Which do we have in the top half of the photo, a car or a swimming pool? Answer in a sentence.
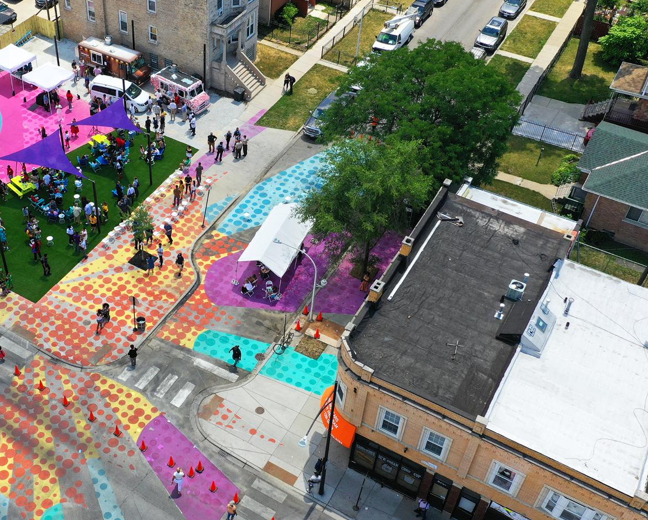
The one visible in the top half of the photo is a car.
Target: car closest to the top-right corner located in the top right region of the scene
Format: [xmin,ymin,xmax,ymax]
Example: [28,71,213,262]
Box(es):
[500,0,529,20]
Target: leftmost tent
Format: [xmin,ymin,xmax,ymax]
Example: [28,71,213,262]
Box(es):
[0,47,36,93]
